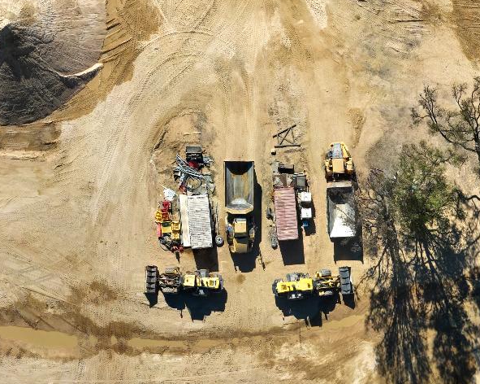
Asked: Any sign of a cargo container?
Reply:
Yes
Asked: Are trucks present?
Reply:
Yes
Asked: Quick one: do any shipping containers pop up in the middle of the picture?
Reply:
Yes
